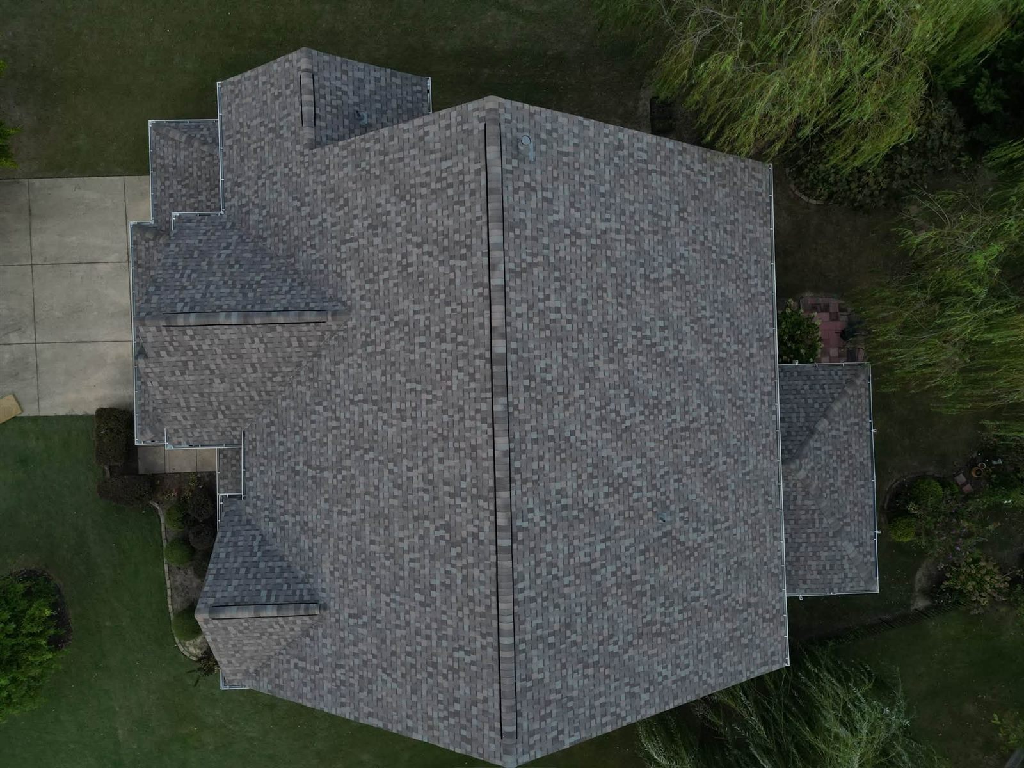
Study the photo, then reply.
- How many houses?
one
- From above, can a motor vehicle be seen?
No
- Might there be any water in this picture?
No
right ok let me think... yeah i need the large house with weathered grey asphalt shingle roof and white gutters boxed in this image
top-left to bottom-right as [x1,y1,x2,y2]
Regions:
[131,48,880,766]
